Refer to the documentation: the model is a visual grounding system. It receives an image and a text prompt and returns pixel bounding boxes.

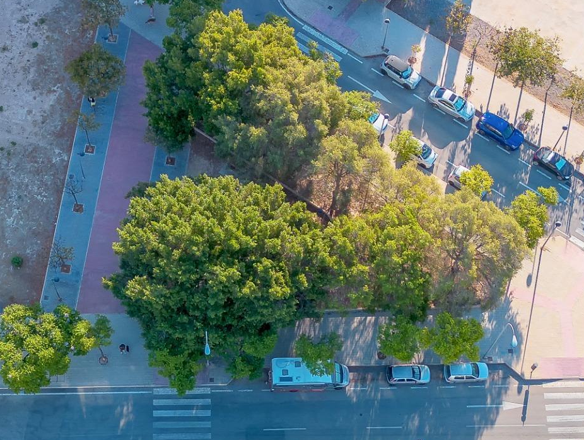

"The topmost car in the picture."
[381,56,420,89]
